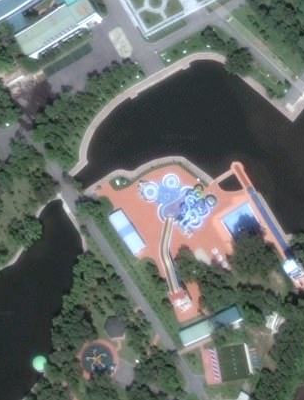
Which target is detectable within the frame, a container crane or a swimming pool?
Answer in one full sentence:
It is a swimming pool that can be seen here.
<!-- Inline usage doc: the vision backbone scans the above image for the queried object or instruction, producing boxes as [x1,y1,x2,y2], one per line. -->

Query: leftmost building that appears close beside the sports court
[180,318,213,346]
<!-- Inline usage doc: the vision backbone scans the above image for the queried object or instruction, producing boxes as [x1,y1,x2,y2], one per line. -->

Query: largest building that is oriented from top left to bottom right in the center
[110,209,147,254]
